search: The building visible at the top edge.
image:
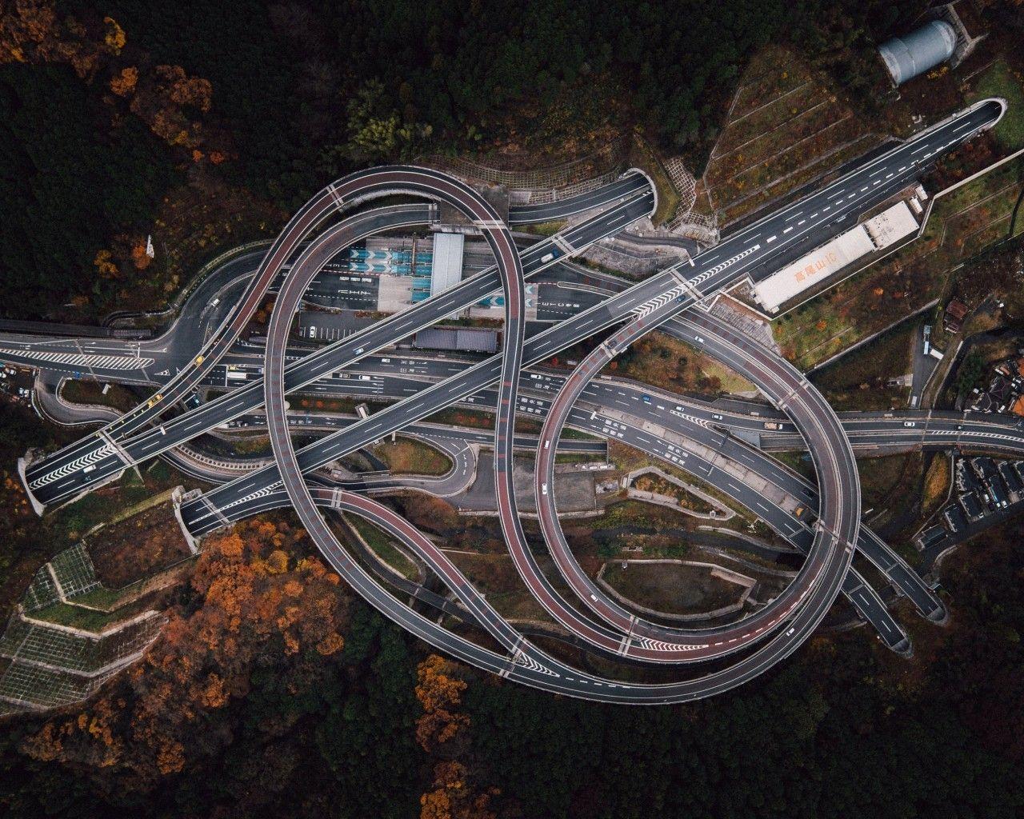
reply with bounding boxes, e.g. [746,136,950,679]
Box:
[879,16,962,91]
